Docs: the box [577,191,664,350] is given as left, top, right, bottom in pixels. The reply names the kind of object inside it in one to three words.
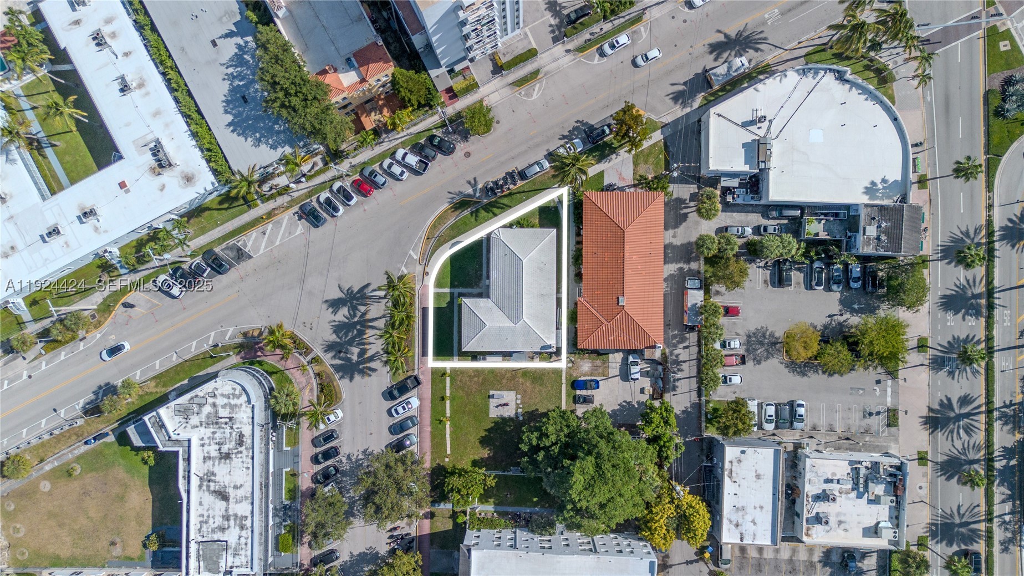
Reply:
house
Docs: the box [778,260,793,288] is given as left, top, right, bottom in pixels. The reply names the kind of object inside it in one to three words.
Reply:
vehicle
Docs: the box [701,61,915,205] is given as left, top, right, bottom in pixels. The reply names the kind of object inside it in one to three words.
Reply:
building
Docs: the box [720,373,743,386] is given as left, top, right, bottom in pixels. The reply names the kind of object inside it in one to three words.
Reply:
vehicle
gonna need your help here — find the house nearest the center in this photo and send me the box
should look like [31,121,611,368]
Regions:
[462,228,557,352]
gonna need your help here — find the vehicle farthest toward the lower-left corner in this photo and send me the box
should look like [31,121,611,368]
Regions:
[84,428,113,448]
